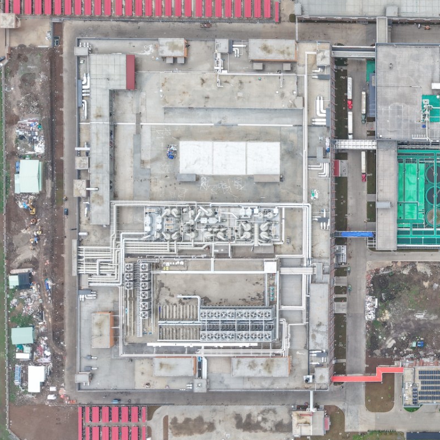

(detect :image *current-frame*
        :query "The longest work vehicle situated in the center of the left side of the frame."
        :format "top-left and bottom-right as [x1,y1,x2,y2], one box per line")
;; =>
[23,196,36,215]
